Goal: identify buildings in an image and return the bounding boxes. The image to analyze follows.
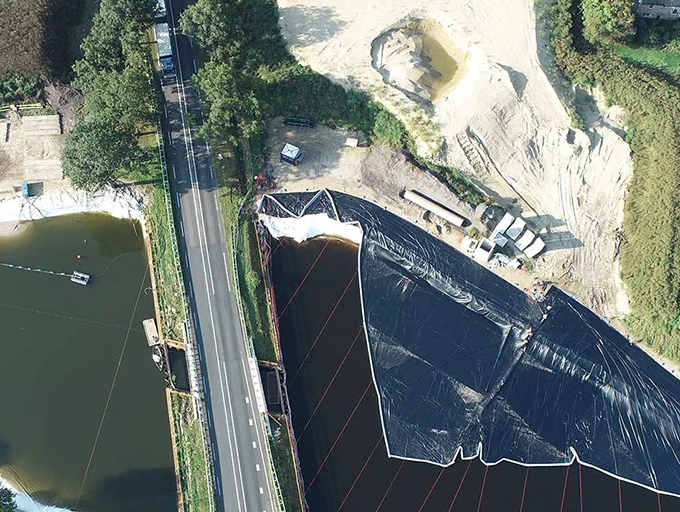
[624,0,680,20]
[281,147,299,167]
